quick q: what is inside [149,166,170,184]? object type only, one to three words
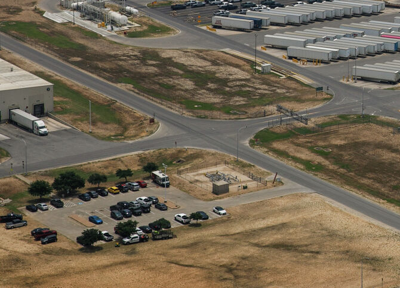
camper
